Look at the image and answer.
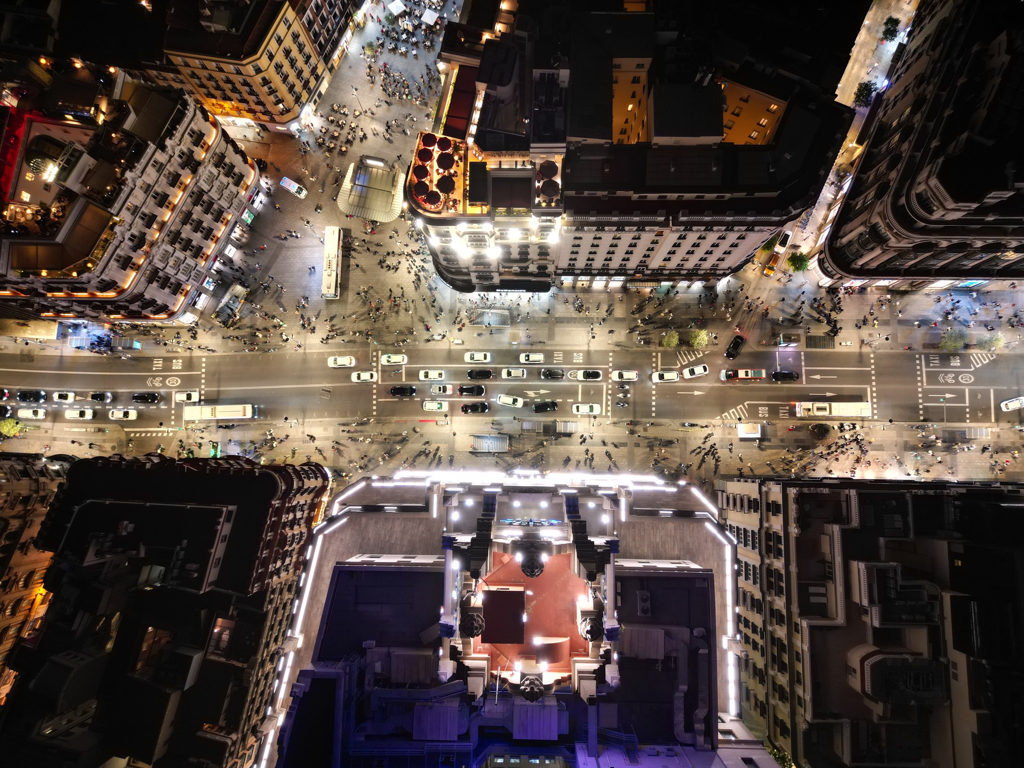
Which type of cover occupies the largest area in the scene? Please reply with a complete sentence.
The scene is dominated by buildings.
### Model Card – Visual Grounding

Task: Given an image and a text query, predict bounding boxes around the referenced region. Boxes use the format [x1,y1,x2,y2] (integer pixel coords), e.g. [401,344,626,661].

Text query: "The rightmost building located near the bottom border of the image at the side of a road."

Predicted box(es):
[712,470,1024,768]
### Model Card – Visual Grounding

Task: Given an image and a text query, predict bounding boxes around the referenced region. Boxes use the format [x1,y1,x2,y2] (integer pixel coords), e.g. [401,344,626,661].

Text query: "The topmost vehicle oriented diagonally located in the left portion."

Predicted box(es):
[280,177,311,203]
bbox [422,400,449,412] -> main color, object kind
white vehicle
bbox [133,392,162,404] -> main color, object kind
black vehicle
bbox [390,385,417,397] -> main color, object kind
black vehicle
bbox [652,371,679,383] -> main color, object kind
white vehicle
